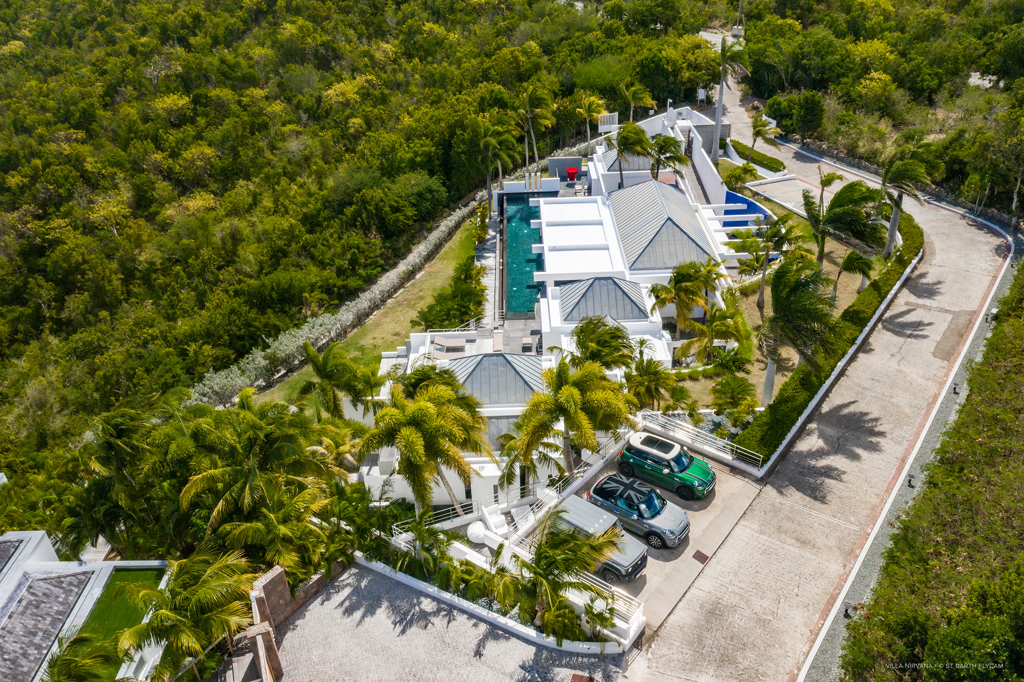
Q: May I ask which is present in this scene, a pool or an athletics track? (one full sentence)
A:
It is a pool that can be seen here.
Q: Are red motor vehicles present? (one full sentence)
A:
No, there's no red motor vehicle here.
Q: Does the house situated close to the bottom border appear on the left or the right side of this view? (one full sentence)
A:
The house situated close to the bottom border is on the left side of the image.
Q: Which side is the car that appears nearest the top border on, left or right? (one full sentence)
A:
The car that appears nearest the top border appears in the right half of the scene.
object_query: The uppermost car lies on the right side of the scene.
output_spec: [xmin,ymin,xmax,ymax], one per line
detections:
[615,427,718,502]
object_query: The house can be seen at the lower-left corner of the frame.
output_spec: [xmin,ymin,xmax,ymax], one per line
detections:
[0,529,178,682]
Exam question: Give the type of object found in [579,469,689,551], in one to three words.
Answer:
car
